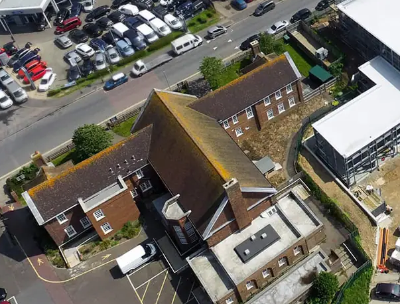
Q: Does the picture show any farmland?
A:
No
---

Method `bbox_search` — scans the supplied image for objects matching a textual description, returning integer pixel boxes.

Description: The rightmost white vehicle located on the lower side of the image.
[108,248,155,279]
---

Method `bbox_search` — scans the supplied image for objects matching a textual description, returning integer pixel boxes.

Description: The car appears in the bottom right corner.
[372,283,400,302]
